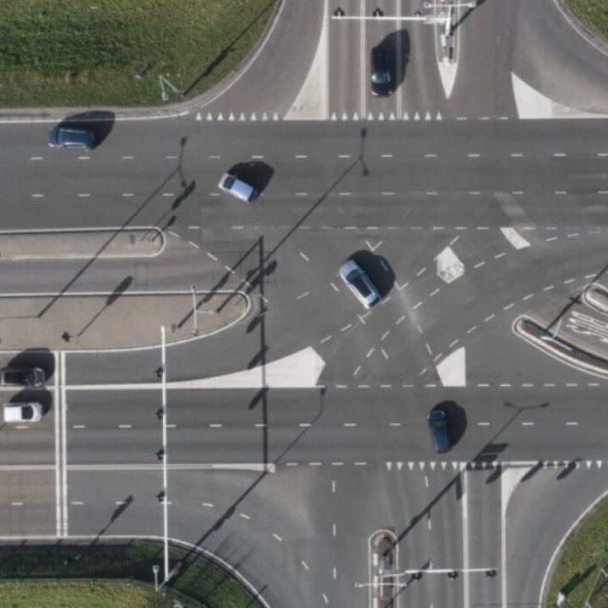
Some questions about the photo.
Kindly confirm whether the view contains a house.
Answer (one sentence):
No, no house is visible in the view.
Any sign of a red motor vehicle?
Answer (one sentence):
No, there is no red motor vehicle in the image.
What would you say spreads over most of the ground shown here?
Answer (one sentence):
The largest share of the image is taken up by paved ground.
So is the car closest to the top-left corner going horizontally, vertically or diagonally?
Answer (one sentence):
I'd say the car closest to the top-left corner is aligned horizontally in the picture.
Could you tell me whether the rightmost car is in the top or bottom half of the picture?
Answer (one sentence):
The rightmost car sits in the bottom half of the picture.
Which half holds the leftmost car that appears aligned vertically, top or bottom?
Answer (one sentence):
The leftmost car that appears aligned vertically sits in the top half of the picture.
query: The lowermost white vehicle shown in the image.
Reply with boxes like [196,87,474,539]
[1,401,45,423]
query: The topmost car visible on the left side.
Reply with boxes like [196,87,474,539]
[49,126,96,150]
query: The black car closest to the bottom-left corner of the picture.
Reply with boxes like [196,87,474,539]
[1,364,48,387]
